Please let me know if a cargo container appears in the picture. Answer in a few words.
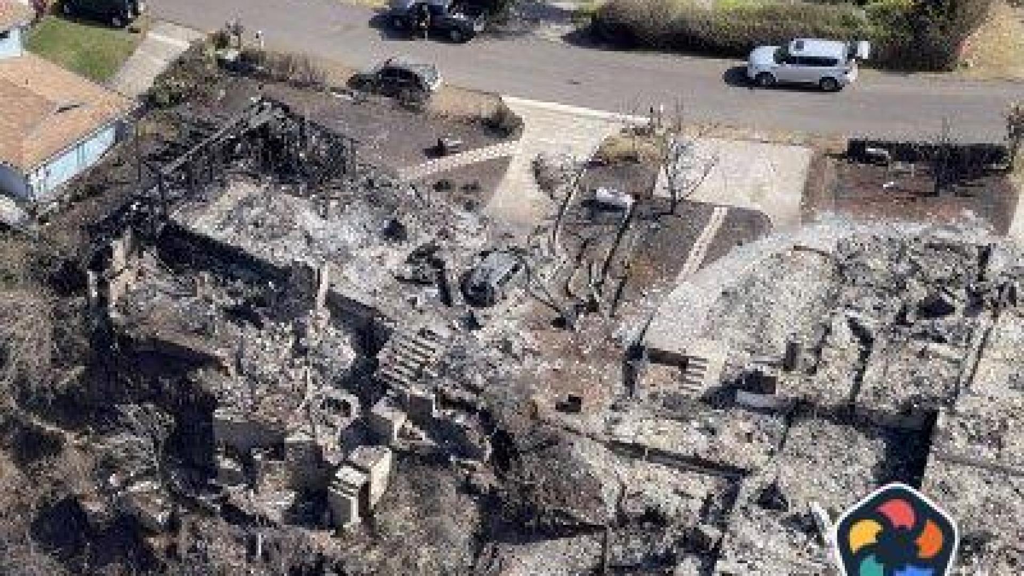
No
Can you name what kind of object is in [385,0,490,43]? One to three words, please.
car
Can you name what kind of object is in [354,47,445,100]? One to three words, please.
car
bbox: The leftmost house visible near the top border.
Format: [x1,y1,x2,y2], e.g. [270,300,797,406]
[0,0,131,213]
